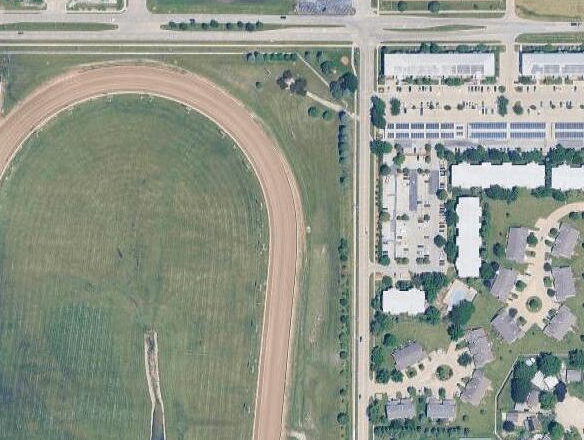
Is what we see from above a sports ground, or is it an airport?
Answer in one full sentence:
The picture captures a sports ground.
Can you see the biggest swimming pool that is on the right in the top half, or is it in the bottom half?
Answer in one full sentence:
The bottom half of the photo is where the biggest swimming pool that is on the right is.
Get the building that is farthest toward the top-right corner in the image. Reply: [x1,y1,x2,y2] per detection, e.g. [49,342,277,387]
[521,53,584,76]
